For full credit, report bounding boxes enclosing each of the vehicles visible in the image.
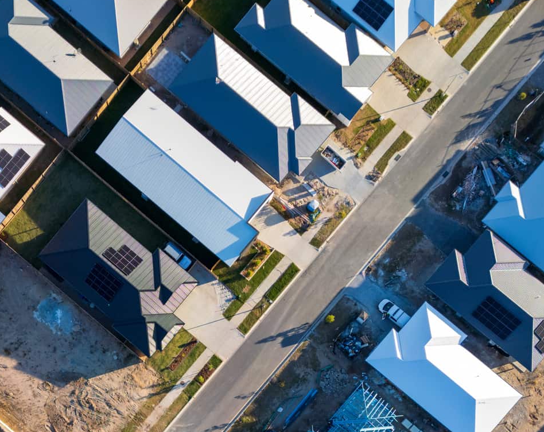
[380,298,412,328]
[160,239,194,272]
